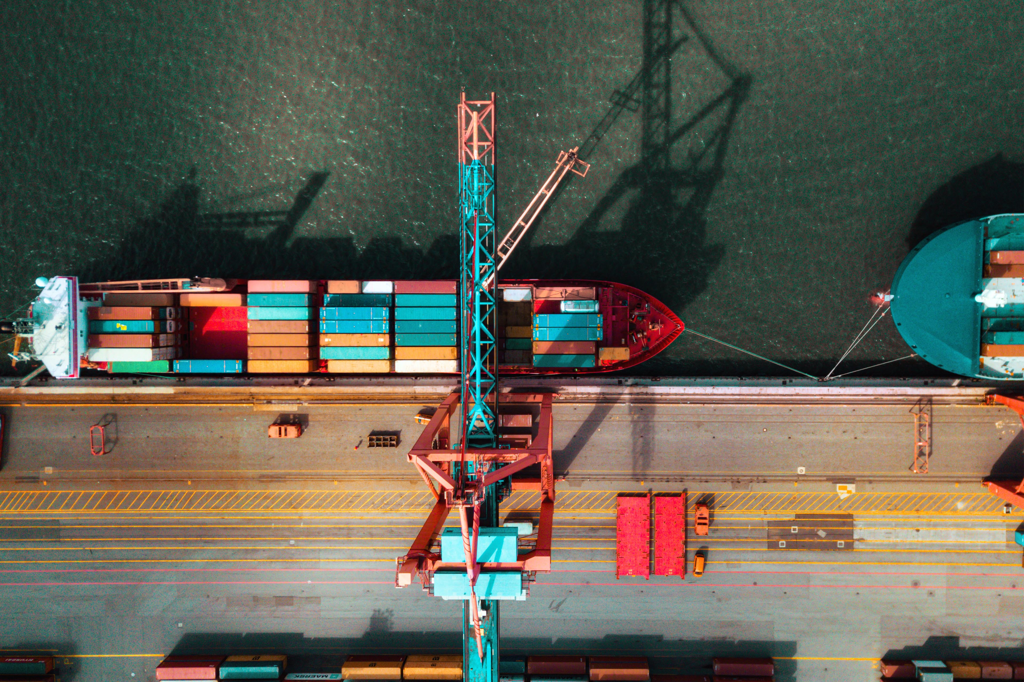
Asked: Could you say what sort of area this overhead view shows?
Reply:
port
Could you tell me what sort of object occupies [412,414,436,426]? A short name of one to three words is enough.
vehicle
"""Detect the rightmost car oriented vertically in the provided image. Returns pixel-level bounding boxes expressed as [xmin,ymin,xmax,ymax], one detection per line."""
[693,555,705,578]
